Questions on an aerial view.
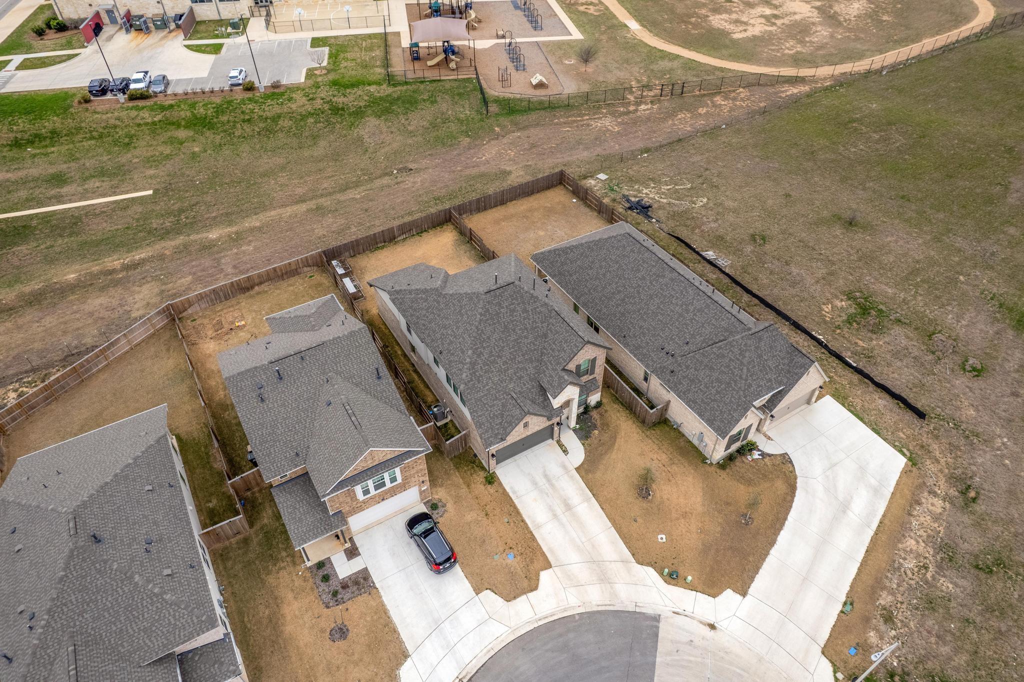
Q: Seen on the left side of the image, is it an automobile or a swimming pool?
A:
automobile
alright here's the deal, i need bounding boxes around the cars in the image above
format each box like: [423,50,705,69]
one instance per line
[403,511,461,577]
[109,75,131,92]
[227,67,244,83]
[88,77,110,93]
[150,74,170,90]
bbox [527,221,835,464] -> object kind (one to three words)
house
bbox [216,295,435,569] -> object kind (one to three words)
house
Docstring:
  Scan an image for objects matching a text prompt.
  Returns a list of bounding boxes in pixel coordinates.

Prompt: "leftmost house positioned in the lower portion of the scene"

[0,404,252,682]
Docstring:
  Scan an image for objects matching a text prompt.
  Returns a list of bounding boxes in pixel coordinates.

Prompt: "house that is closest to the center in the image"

[368,253,614,473]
